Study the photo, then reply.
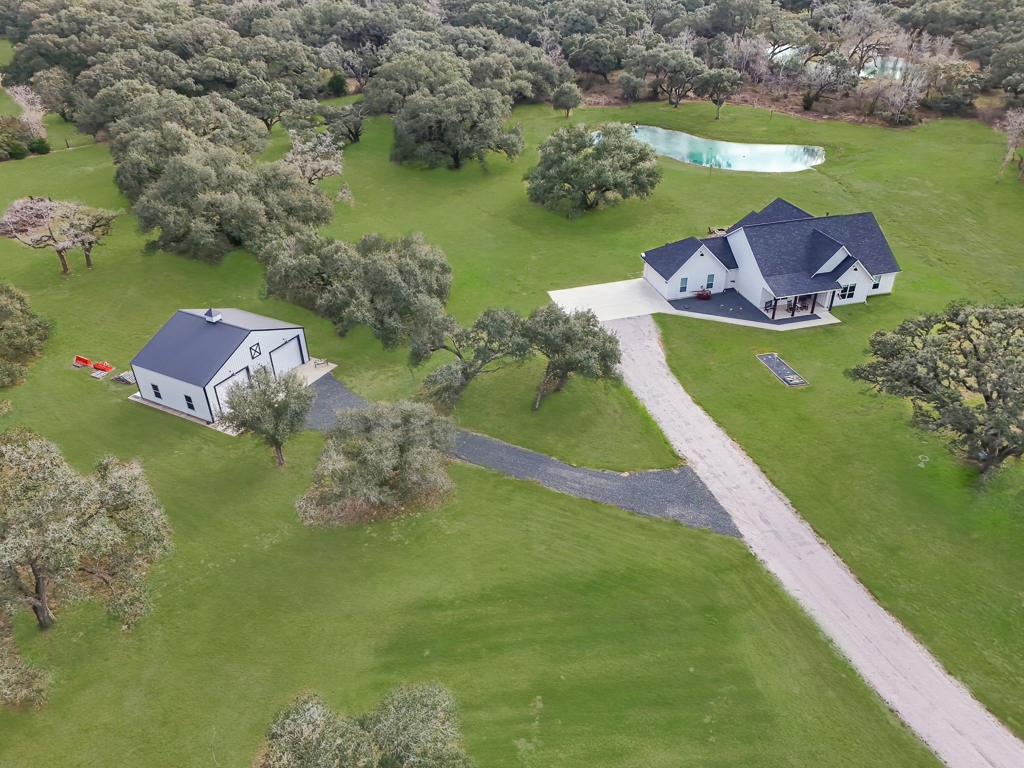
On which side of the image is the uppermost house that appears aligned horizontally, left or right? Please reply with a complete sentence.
The uppermost house that appears aligned horizontally is on the right side of the image.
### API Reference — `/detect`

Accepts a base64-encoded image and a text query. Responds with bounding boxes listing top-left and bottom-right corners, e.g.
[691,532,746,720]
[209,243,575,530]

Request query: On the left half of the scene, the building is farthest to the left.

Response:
[129,308,310,423]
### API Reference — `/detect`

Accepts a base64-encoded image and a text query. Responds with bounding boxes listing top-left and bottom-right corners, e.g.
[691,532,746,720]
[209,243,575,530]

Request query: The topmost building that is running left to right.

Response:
[640,197,903,319]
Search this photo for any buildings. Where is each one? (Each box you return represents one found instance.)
[640,197,903,319]
[129,308,310,423]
